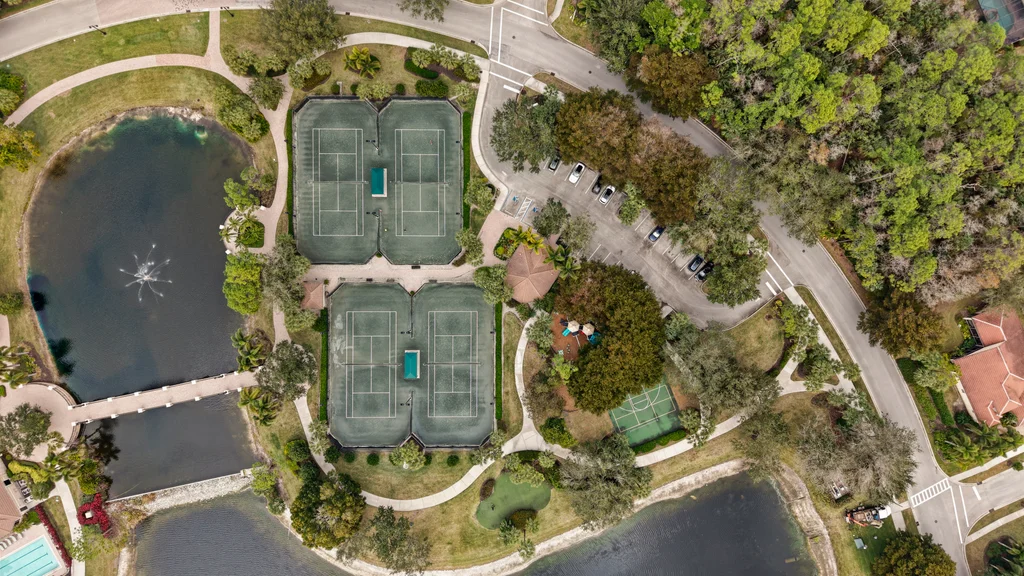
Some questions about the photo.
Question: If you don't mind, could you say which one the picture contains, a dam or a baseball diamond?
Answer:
dam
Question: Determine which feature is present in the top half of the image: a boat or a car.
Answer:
car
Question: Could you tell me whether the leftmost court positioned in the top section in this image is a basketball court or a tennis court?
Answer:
tennis court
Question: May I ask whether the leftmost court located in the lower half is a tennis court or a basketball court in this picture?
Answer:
tennis court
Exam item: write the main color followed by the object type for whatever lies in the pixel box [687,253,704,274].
gray car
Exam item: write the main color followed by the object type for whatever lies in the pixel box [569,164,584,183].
white car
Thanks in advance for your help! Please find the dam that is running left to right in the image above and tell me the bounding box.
[103,465,255,517]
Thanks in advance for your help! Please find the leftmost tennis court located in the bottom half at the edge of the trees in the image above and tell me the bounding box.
[329,284,411,446]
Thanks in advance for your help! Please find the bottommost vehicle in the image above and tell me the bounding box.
[845,508,894,530]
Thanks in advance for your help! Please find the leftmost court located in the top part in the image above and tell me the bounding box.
[298,101,379,263]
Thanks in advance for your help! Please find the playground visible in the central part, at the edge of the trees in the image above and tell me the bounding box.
[560,318,601,346]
